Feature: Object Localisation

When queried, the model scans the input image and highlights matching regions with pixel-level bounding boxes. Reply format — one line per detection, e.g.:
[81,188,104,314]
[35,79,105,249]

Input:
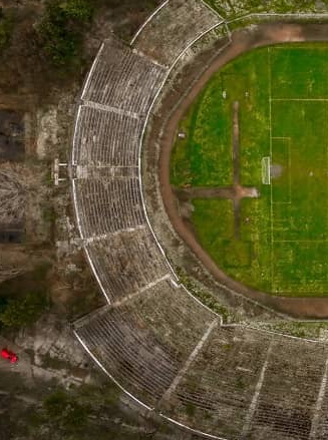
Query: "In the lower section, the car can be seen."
[1,348,18,361]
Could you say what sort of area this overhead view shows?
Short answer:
sports ground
